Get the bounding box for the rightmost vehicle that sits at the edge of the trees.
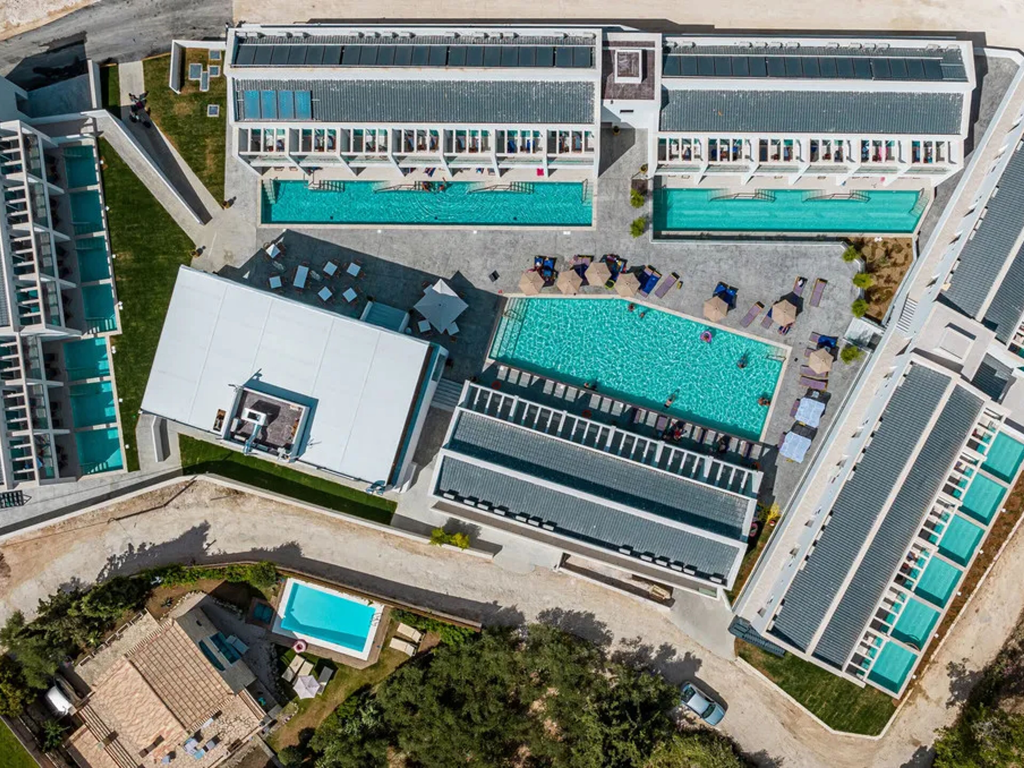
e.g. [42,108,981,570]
[677,678,726,725]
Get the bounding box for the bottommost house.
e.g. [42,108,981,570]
[88,596,273,768]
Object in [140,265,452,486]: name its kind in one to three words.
building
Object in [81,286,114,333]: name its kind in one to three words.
swimming pool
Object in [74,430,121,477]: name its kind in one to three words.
swimming pool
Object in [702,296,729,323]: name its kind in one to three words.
umbrella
